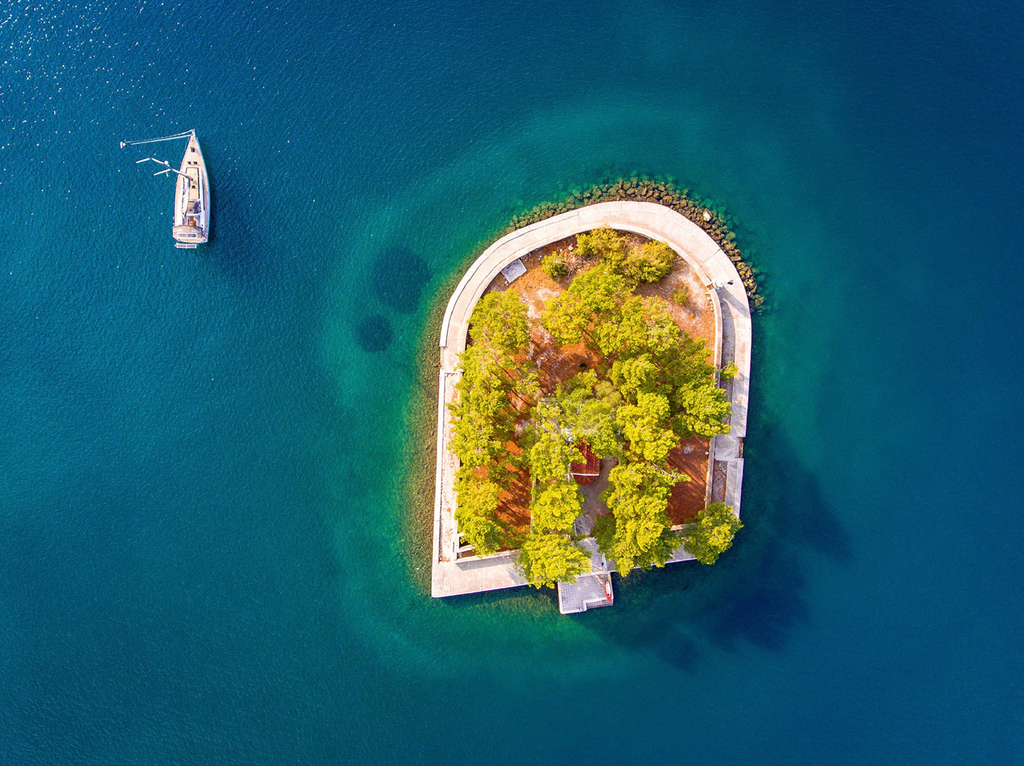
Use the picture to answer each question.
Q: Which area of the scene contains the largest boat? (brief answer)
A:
top left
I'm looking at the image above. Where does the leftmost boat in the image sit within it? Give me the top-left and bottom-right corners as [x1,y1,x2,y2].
[118,129,210,248]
